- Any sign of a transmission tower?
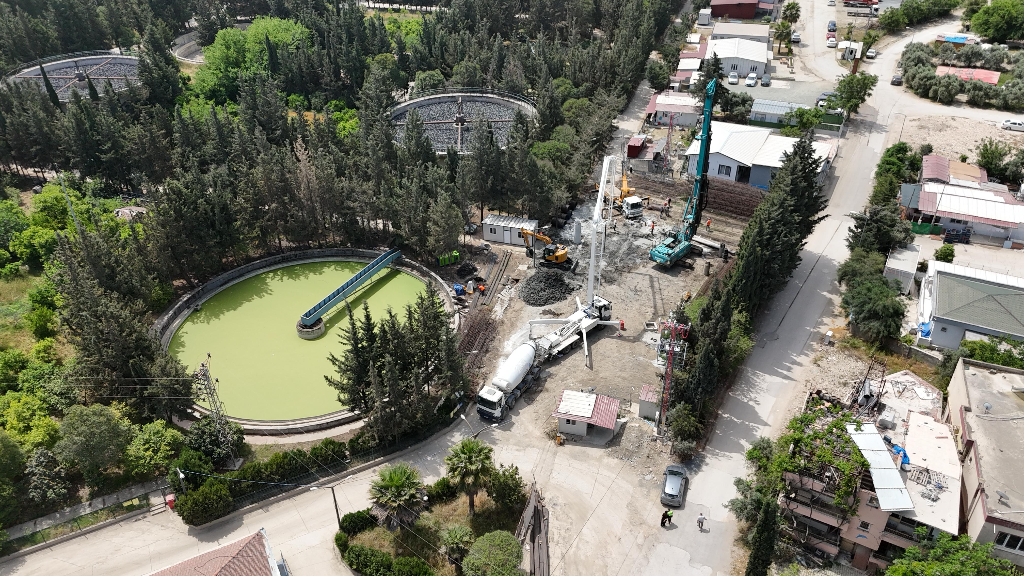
Yes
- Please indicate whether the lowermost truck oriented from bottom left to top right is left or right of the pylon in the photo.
to the right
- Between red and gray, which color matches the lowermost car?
gray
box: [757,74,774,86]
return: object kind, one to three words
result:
vehicle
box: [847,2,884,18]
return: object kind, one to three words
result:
vehicle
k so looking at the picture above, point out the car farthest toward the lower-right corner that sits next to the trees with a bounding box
[663,461,692,509]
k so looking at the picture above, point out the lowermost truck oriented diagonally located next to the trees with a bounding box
[471,331,547,423]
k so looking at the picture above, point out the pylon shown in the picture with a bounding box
[187,347,252,473]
